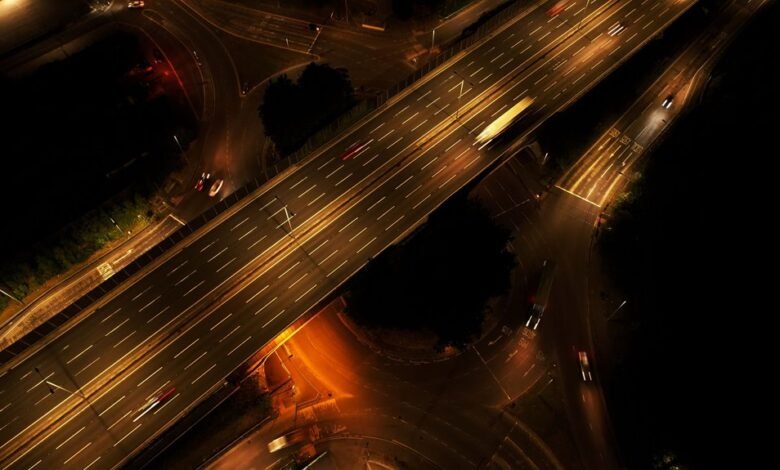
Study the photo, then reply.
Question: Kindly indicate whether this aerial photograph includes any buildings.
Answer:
No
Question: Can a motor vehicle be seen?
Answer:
Yes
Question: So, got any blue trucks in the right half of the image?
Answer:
No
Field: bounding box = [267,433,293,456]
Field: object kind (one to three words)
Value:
vehicle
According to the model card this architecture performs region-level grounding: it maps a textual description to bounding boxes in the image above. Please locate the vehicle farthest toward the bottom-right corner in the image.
[580,356,592,376]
